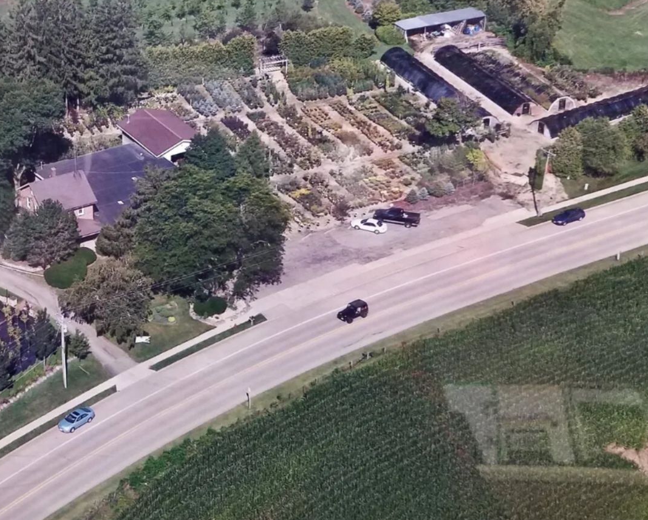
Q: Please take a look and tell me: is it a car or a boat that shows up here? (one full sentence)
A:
Of the two, only a car appears.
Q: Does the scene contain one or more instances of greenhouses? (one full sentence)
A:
Yes, there's a greenhouse down there.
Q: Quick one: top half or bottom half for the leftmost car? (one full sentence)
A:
The leftmost car is in the bottom half of the image.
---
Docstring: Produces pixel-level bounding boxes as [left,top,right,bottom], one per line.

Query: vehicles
[552,207,588,226]
[56,404,98,434]
[372,206,420,229]
[336,297,370,324]
[351,217,388,234]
